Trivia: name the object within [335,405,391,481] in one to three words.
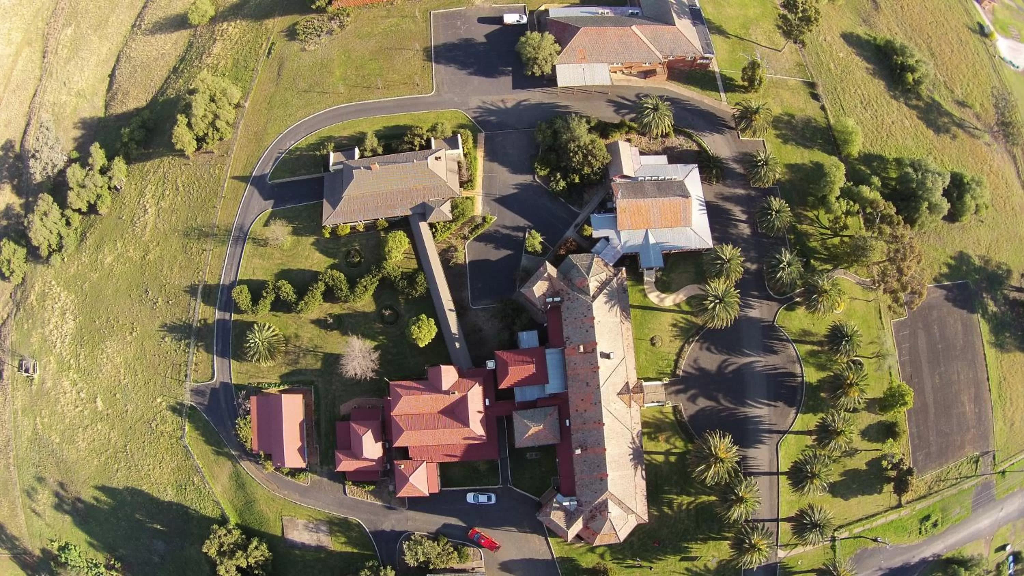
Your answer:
house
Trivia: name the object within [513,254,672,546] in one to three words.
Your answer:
building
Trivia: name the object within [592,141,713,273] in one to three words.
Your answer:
building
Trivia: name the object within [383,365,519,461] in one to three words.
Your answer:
house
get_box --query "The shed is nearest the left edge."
[250,394,311,468]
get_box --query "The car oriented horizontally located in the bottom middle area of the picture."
[466,493,495,506]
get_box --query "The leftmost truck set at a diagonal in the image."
[468,528,501,558]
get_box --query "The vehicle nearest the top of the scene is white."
[503,10,527,24]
